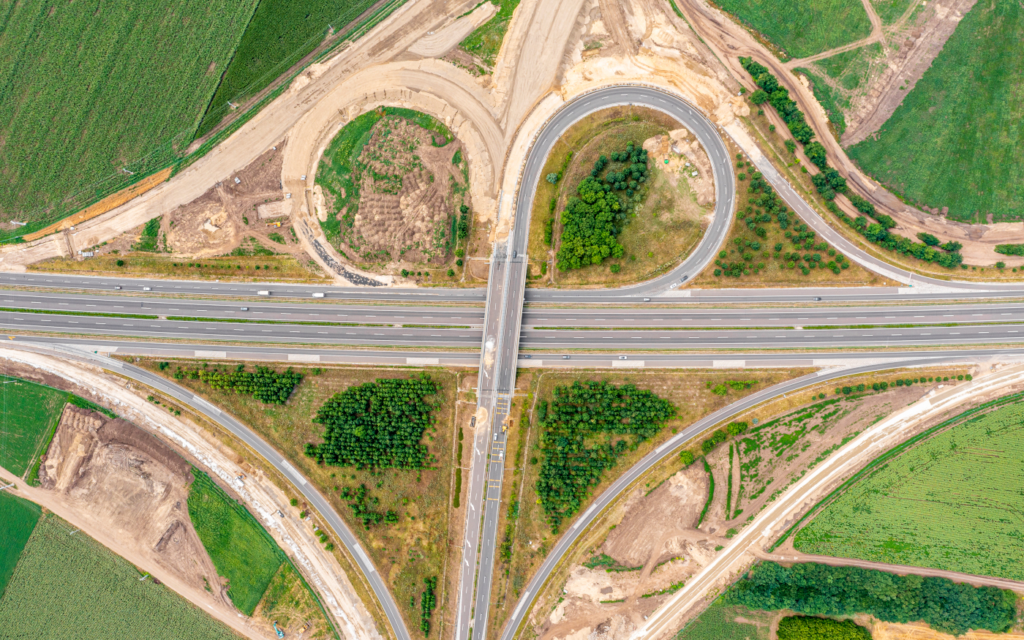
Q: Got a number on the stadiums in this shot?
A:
zero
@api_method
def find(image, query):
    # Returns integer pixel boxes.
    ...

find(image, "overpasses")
[471,250,536,402]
